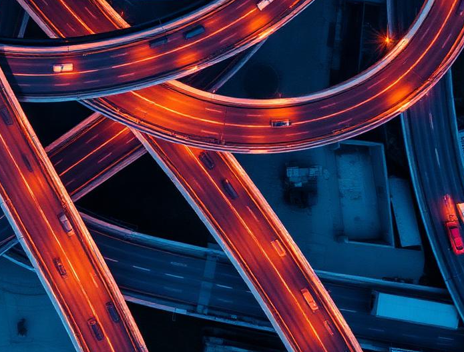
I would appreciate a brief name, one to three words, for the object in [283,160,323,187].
building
